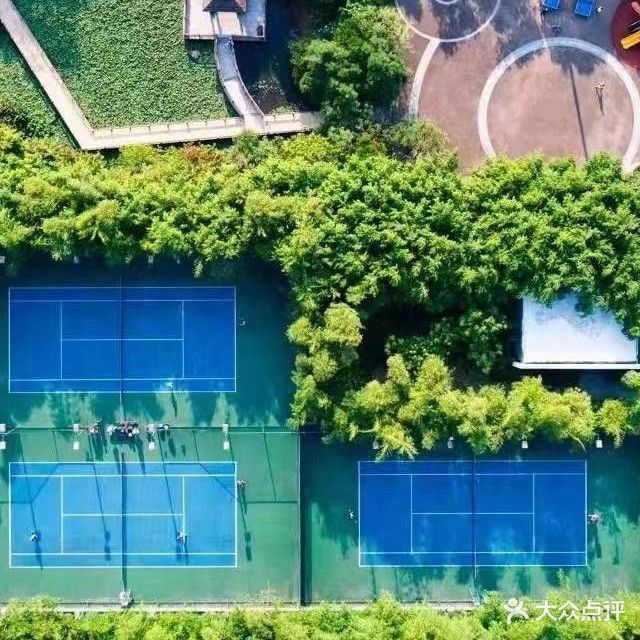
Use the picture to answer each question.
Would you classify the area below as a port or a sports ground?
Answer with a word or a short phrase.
sports ground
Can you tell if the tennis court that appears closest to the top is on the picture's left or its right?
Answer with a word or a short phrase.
left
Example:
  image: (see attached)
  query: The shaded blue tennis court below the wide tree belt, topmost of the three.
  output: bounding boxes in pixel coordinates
[0,254,299,429]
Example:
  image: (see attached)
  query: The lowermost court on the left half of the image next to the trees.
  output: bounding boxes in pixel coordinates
[0,429,299,603]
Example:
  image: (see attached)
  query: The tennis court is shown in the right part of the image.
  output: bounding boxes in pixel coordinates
[300,431,640,603]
